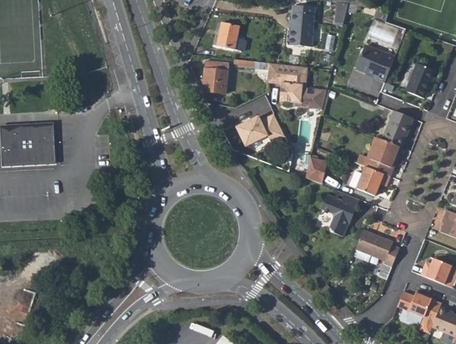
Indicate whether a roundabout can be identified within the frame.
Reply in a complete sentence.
Yes, this view includes a roundabout.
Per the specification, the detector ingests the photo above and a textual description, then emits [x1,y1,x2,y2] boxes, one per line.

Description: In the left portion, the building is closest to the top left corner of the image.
[0,122,57,168]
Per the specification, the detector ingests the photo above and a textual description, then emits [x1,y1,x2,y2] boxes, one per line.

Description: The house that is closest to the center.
[236,114,286,146]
